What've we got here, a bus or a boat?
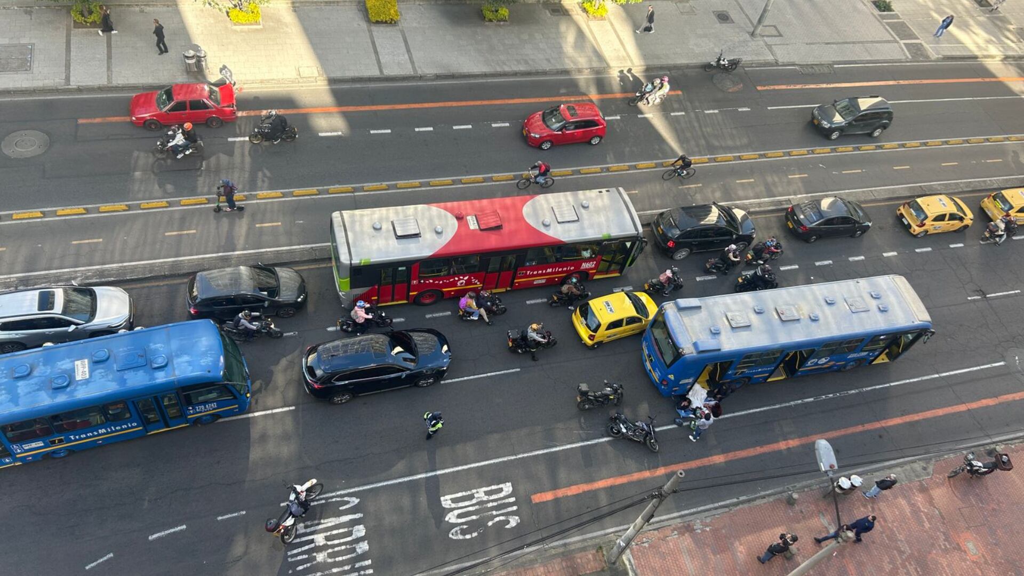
bus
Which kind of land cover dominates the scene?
paved ground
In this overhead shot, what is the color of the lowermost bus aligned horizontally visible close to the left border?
blue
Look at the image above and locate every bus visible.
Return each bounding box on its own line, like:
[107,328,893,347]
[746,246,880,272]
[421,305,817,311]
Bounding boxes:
[639,279,932,399]
[0,322,251,468]
[333,189,641,311]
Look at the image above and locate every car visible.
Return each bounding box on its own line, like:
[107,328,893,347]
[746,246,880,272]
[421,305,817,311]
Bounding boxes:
[521,99,610,147]
[0,273,138,355]
[178,259,309,325]
[295,318,454,403]
[809,89,895,137]
[125,79,238,128]
[648,202,753,259]
[899,188,977,235]
[780,190,878,241]
[568,285,662,349]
